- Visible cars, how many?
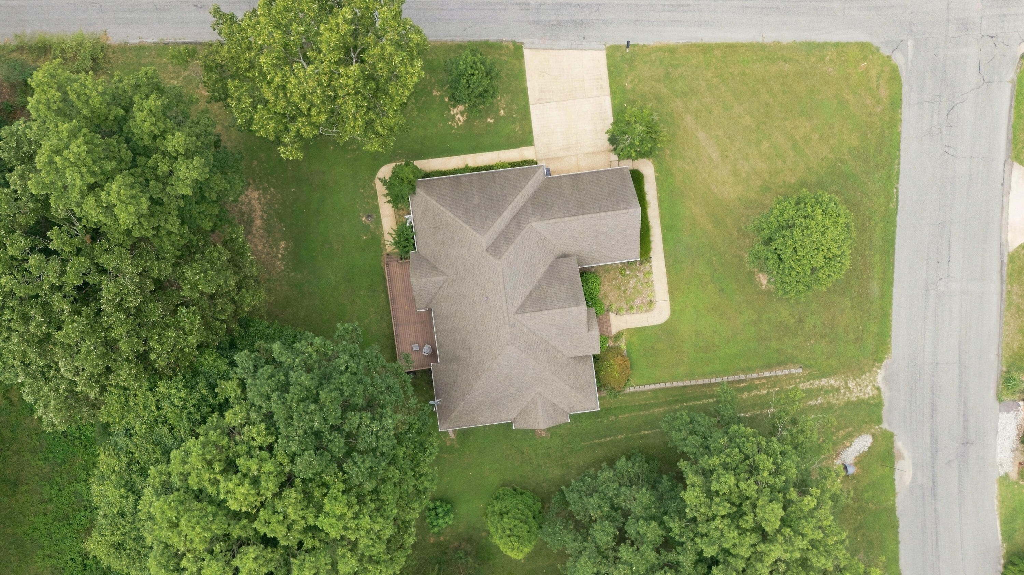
none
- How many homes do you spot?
1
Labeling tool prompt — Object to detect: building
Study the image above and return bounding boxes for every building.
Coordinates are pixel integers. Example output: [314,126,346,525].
[409,163,640,432]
